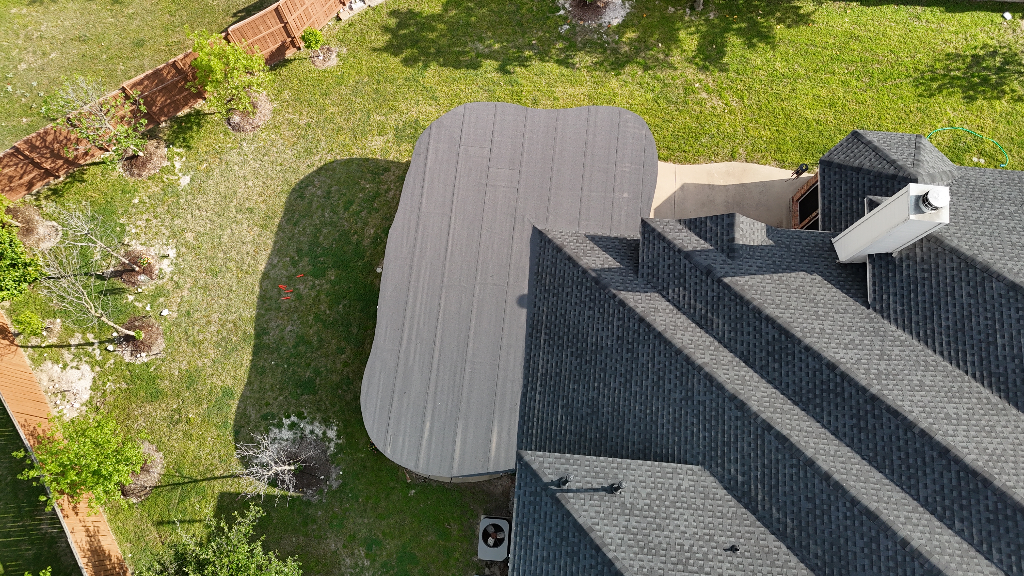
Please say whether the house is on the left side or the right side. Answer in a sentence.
The house is on the right side of the image.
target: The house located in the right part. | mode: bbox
[508,128,1024,576]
